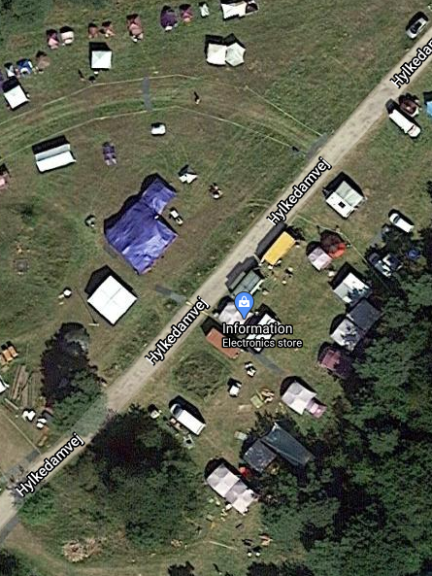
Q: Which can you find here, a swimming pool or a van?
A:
van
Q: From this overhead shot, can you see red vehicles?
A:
No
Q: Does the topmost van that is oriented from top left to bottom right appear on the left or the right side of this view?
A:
right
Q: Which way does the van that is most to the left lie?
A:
diagonally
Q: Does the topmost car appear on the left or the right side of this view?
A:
right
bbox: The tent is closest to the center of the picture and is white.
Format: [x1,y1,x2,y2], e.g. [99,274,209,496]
[219,298,252,329]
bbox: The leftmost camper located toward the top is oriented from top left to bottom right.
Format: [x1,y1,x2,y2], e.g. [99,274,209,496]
[326,191,356,220]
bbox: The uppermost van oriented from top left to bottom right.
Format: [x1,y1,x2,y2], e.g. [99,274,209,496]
[388,103,423,137]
